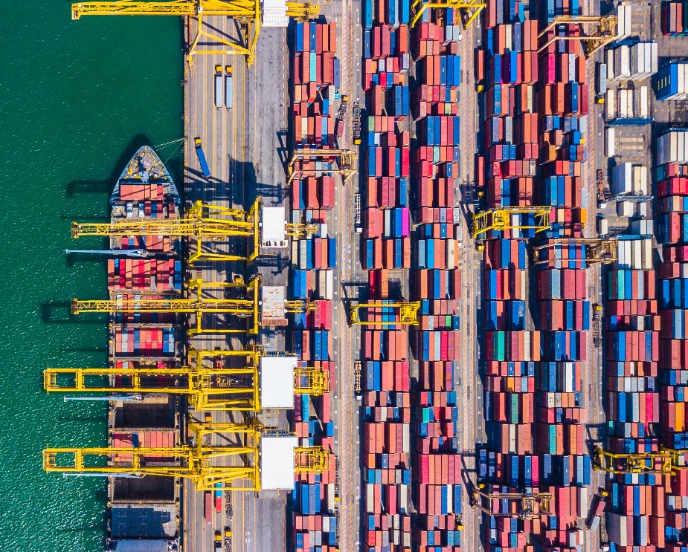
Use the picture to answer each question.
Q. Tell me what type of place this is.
port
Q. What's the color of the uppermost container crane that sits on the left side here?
yellow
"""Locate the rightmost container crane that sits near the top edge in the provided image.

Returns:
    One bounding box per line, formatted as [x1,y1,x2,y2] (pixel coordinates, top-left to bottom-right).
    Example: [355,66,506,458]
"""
[536,10,619,57]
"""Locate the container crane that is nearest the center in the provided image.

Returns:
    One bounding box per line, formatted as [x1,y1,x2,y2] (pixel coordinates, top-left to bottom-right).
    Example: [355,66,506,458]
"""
[349,301,423,330]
